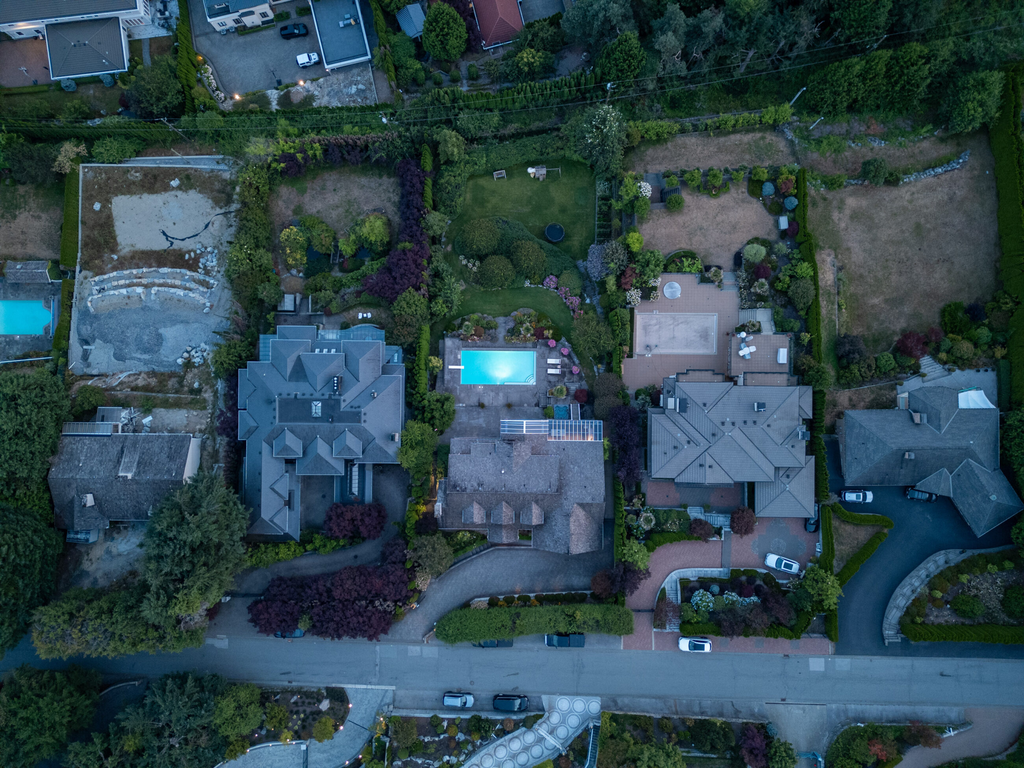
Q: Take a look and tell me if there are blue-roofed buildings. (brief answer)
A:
Yes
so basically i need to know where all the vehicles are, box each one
[903,486,940,505]
[839,488,874,505]
[493,693,529,712]
[290,50,324,71]
[443,690,475,709]
[764,553,801,575]
[544,631,586,650]
[677,636,712,653]
[802,503,820,535]
[274,625,306,641]
[473,632,514,651]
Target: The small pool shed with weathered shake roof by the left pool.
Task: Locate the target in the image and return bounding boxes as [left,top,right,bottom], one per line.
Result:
[1,260,58,283]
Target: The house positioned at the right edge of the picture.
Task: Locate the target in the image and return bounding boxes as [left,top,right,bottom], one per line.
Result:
[832,387,1024,538]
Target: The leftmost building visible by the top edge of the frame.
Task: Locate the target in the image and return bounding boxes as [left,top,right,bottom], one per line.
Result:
[0,0,165,83]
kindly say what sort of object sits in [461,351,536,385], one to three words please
swimming pool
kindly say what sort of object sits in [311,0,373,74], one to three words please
building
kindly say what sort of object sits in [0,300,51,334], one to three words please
swimming pool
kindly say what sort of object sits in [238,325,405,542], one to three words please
house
